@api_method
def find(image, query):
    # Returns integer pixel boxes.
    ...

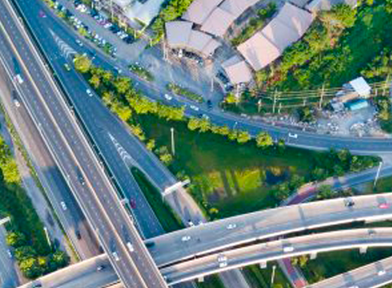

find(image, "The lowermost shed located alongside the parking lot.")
[221,58,254,90]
